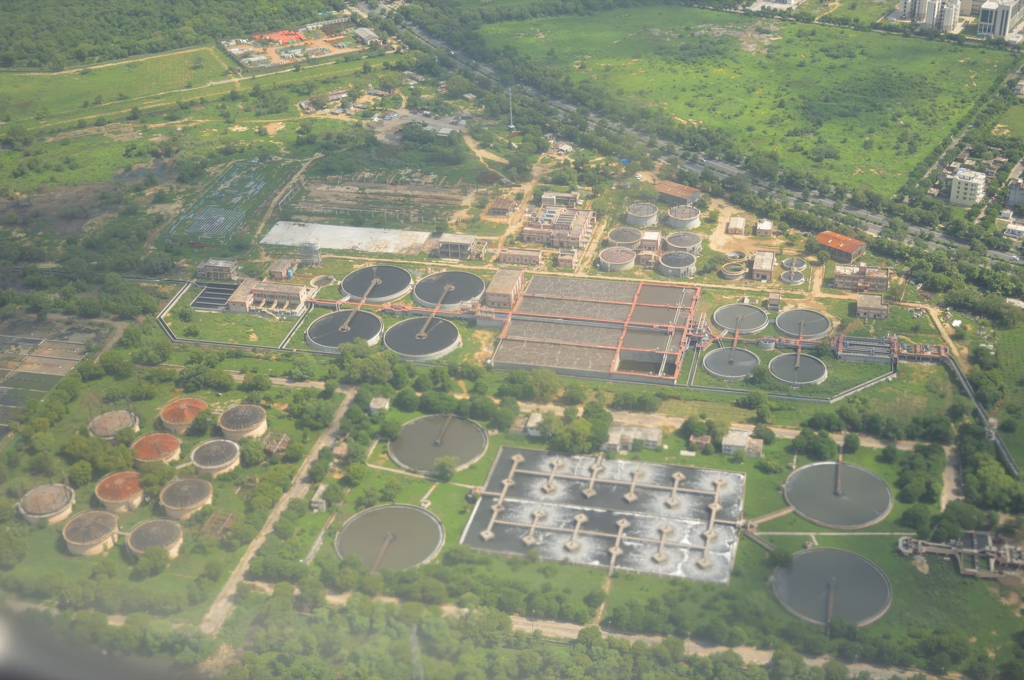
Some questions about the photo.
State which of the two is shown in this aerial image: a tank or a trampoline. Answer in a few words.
tank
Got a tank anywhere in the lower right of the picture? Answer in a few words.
Yes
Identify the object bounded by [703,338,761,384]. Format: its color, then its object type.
gray storage tank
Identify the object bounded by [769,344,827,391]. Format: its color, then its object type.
gray storage tank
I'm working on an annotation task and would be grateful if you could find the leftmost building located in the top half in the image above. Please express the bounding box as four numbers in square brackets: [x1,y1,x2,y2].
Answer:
[196,257,239,281]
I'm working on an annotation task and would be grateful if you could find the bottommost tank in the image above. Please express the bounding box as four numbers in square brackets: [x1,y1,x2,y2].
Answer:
[771,547,893,636]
